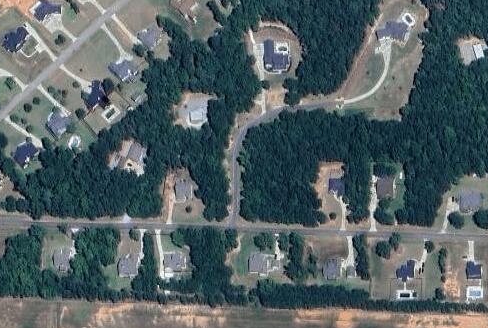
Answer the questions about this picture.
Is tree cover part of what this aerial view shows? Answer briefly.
Yes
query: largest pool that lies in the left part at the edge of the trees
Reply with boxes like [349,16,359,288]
[103,105,121,122]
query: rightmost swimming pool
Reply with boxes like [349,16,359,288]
[468,286,482,299]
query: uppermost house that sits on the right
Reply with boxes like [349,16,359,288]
[377,19,408,42]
